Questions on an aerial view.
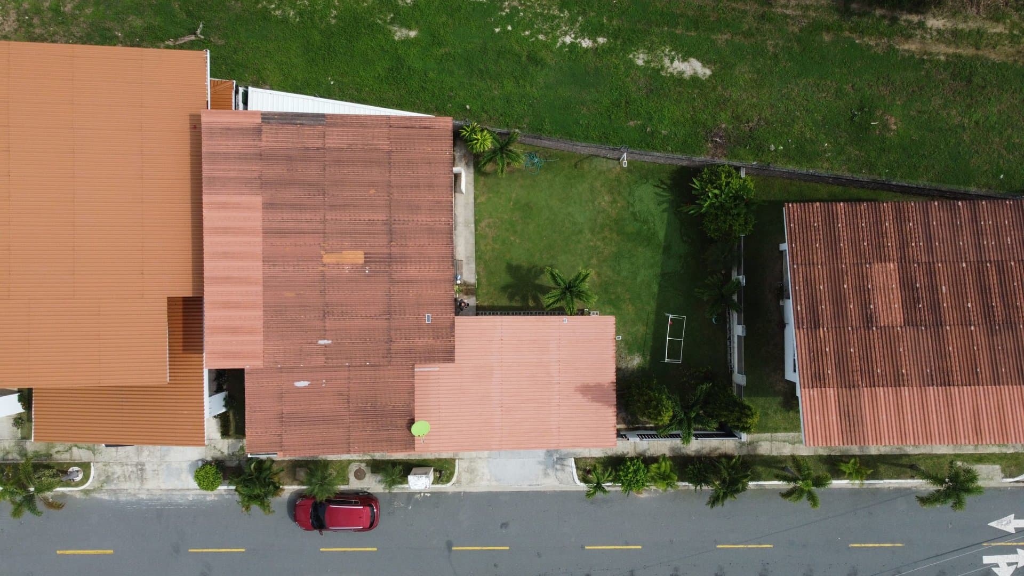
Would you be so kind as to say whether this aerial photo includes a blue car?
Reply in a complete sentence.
No, there is no blue car in the image.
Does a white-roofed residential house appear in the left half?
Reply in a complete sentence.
No, looking in the left half, there is no white-roofed residential house.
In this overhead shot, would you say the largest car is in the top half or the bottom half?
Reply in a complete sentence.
It is in the bottom half that the largest car appears.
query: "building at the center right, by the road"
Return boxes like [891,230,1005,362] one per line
[781,203,1024,447]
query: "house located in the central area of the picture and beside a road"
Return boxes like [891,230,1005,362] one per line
[201,109,617,463]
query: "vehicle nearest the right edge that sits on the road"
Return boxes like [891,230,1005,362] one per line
[294,490,382,535]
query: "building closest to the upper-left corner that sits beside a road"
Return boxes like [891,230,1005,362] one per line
[0,43,242,445]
